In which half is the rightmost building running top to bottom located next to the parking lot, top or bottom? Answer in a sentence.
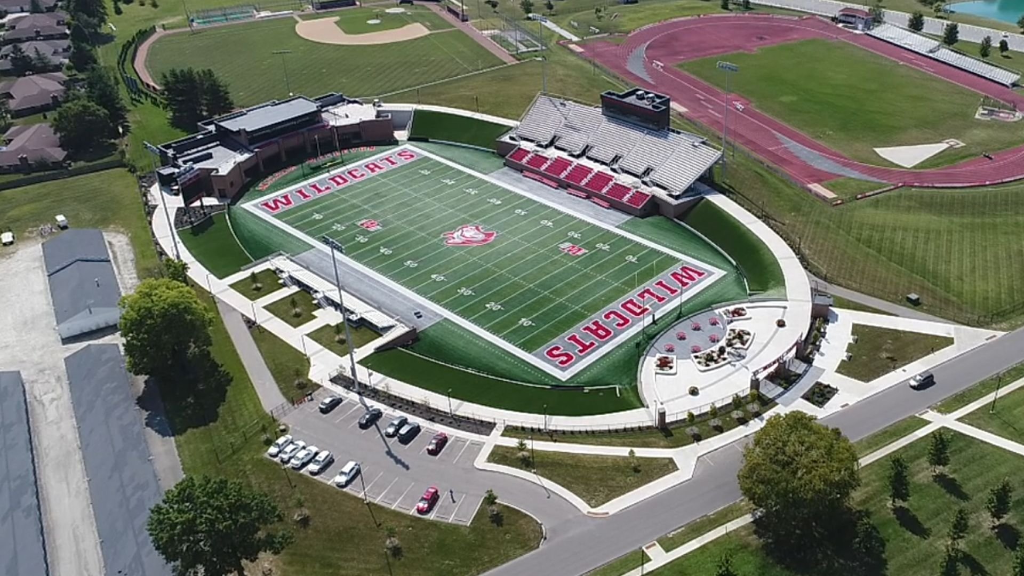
The rightmost building running top to bottom located next to the parking lot is in the bottom half of the image.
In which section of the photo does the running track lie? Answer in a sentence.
You can find the running track in the top right area of the picture.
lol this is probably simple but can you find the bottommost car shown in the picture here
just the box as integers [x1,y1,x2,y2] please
[415,488,439,511]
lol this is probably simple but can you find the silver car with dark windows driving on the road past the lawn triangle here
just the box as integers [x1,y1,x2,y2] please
[910,369,935,387]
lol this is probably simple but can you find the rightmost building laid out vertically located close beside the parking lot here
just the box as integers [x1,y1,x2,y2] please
[65,343,172,576]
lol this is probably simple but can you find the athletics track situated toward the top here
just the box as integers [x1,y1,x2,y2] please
[574,14,1024,204]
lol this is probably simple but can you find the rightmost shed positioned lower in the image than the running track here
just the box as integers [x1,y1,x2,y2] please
[813,295,833,317]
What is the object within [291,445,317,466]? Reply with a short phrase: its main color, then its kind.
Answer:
white car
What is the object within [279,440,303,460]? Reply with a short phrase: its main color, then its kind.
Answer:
white car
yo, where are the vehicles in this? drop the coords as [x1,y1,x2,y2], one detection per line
[308,448,332,471]
[415,488,439,511]
[358,407,382,426]
[910,369,935,387]
[383,415,407,434]
[54,217,67,227]
[268,432,291,454]
[334,459,359,484]
[396,419,421,441]
[291,445,317,466]
[425,432,449,452]
[279,440,303,460]
[0,232,12,243]
[318,394,342,412]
